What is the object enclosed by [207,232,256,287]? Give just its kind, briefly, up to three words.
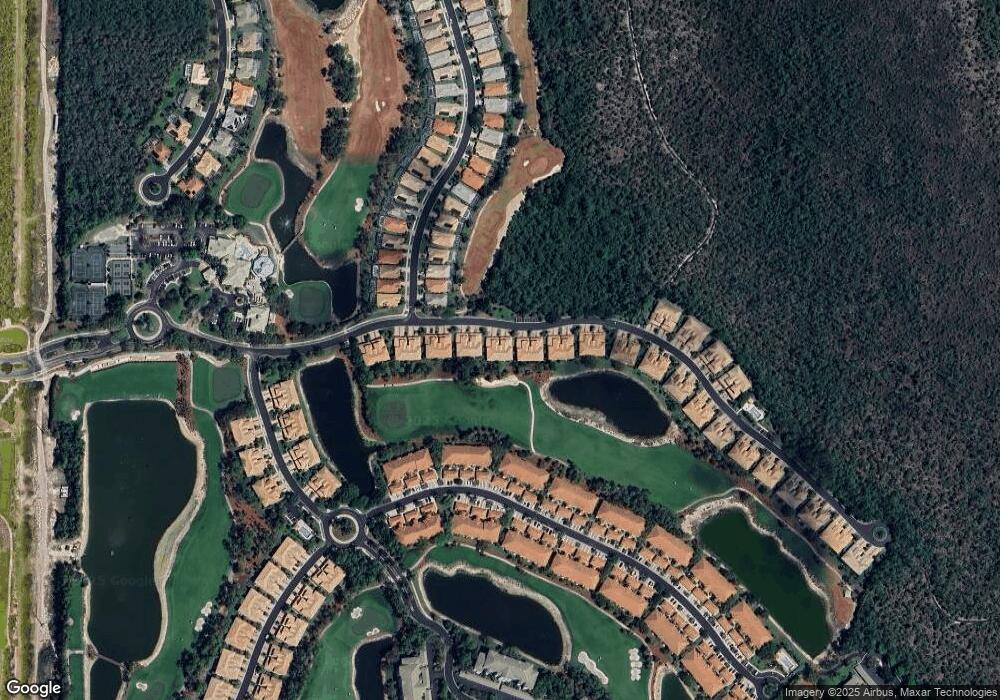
building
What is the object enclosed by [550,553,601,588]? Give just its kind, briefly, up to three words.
house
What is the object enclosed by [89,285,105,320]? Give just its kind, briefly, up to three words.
tennis court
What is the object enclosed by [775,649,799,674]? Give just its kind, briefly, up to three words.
swimming pool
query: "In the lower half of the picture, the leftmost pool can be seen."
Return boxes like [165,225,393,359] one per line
[297,522,316,544]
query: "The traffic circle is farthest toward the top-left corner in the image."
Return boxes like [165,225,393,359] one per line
[141,174,170,203]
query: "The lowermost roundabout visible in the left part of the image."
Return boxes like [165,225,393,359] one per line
[323,509,364,550]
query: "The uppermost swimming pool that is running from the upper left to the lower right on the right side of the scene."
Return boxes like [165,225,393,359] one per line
[744,401,766,421]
